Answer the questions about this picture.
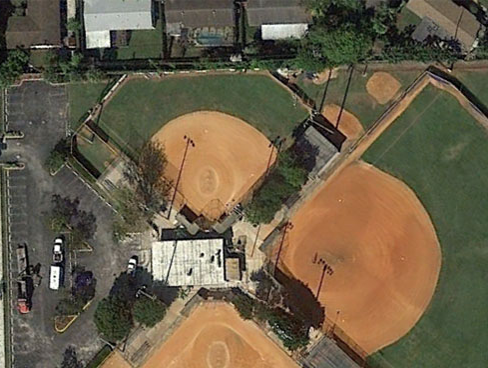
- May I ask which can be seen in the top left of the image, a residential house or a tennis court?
residential house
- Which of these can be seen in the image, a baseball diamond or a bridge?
baseball diamond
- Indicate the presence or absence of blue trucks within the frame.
No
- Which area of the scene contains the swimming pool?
top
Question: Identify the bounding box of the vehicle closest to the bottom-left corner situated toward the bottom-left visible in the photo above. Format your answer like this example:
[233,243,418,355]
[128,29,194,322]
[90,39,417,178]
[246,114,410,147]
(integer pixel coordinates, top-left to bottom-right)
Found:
[13,277,40,313]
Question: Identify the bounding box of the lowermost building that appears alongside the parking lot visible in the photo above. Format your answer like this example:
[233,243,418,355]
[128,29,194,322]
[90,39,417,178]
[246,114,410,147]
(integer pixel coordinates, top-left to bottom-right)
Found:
[152,238,227,289]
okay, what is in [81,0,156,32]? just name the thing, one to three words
house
